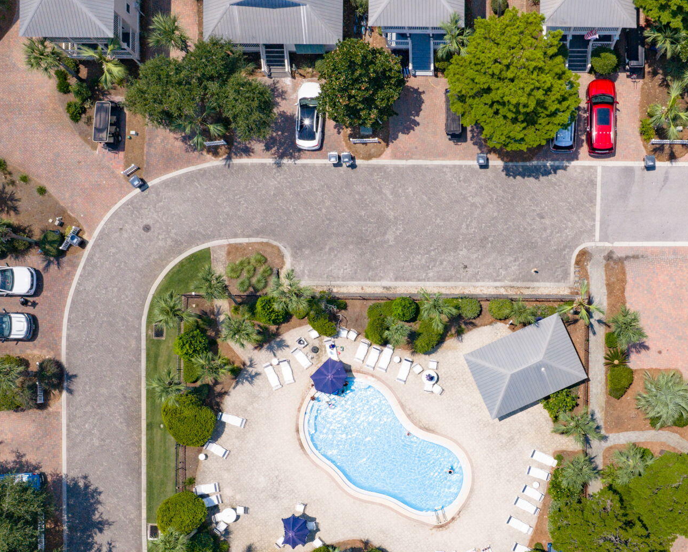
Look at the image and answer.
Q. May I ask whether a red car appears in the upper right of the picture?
Yes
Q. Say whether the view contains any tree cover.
Yes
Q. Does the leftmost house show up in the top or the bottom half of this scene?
top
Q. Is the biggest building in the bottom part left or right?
right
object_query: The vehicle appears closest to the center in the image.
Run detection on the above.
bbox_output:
[291,82,325,150]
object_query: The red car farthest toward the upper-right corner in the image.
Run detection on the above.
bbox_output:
[584,82,619,156]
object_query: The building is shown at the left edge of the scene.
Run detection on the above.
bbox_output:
[18,0,138,57]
